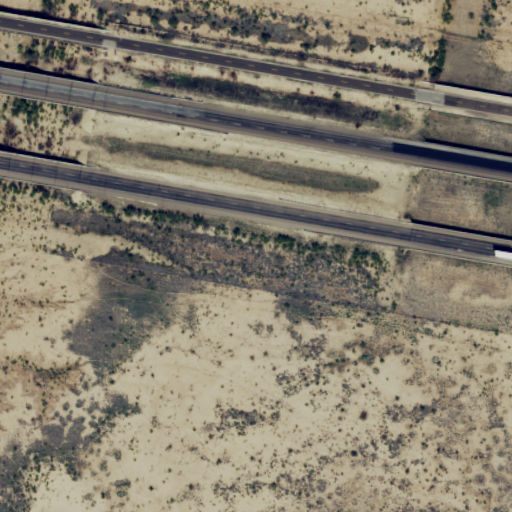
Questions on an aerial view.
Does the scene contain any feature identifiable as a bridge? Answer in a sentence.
Yes, you can see a bridge in this photo.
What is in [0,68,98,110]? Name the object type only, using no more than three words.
bridge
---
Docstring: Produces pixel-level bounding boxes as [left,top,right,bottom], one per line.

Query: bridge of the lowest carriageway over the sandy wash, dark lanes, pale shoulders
[0,151,84,192]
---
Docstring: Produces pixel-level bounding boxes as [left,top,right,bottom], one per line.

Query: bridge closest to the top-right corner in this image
[430,84,512,126]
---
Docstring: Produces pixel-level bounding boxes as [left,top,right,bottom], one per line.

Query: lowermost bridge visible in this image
[408,222,512,268]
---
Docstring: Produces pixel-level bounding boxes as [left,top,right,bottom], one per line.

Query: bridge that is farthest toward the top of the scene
[0,12,104,49]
